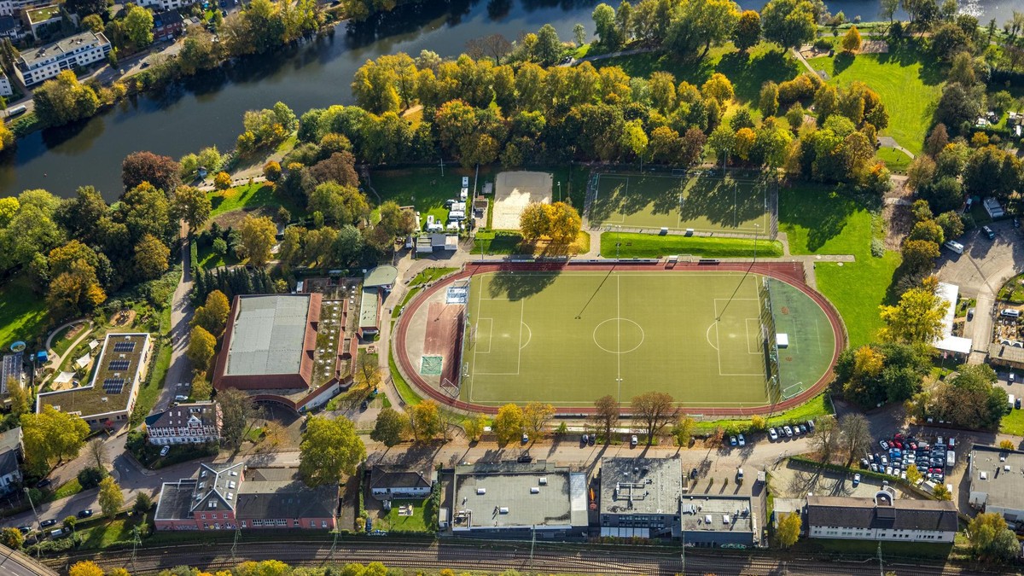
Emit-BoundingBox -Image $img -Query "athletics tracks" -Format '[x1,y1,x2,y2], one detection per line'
[389,260,851,418]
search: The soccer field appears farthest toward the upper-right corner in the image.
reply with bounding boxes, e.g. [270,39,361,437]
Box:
[588,170,773,236]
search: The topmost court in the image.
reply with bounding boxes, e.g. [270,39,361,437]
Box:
[491,171,552,229]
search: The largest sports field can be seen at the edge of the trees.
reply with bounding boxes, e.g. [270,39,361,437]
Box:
[461,271,778,405]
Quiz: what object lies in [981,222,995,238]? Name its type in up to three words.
vehicle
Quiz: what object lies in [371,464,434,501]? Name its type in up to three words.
house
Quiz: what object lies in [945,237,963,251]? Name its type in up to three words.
vehicle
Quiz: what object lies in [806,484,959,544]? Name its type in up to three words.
building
